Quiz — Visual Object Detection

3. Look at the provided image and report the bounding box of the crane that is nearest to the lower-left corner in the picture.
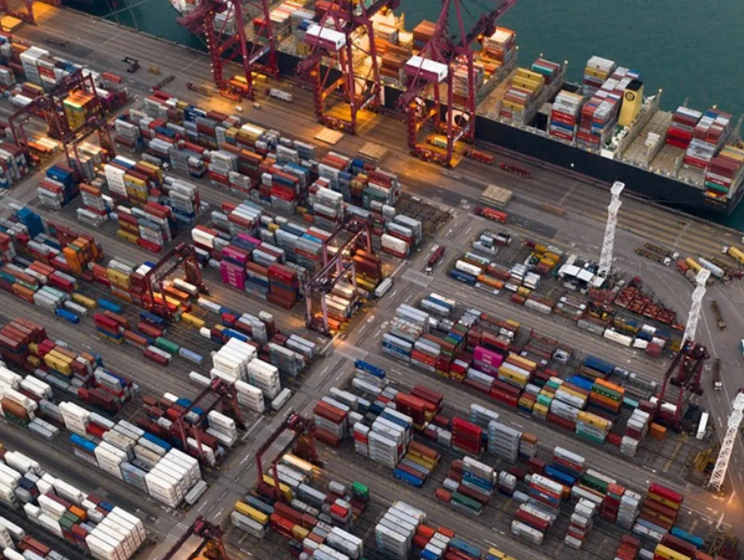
[162,519,229,560]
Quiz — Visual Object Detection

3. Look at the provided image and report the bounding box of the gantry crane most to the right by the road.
[653,346,711,430]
